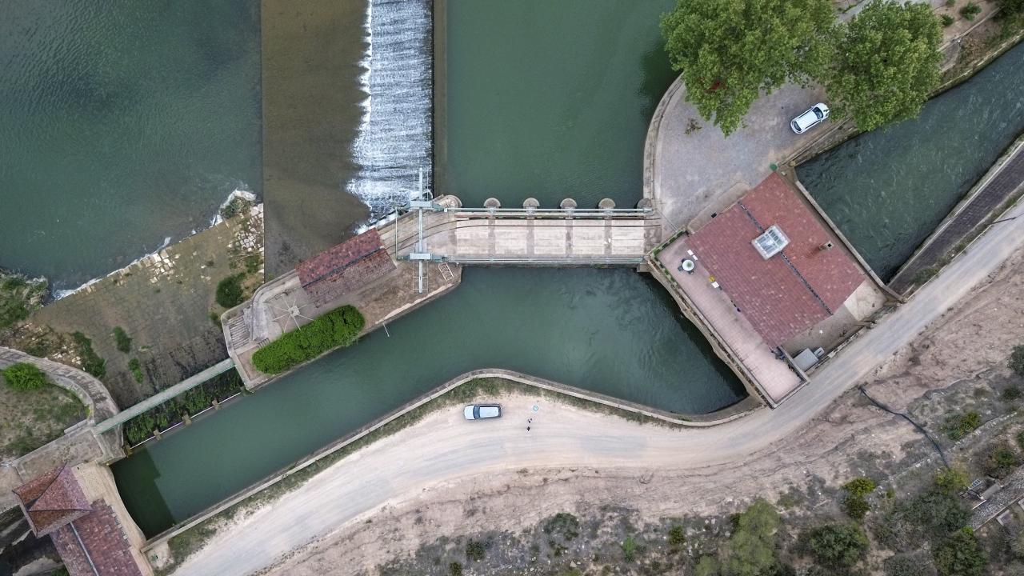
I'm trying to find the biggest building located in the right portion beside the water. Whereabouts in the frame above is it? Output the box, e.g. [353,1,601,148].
[686,172,866,347]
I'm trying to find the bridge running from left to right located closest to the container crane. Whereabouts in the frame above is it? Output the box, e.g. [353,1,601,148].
[441,195,662,267]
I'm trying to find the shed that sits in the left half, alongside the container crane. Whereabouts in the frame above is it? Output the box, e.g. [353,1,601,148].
[296,228,397,309]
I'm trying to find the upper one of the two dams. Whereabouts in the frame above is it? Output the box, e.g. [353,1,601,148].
[261,0,446,280]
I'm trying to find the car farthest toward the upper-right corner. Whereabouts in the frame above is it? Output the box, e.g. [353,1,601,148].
[792,104,831,133]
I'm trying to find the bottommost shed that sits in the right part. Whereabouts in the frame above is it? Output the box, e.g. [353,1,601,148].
[787,347,819,372]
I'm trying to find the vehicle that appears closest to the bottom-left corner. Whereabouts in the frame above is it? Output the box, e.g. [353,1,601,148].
[465,404,501,421]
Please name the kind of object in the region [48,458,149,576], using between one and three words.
building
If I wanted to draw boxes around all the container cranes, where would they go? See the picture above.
[394,164,450,297]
